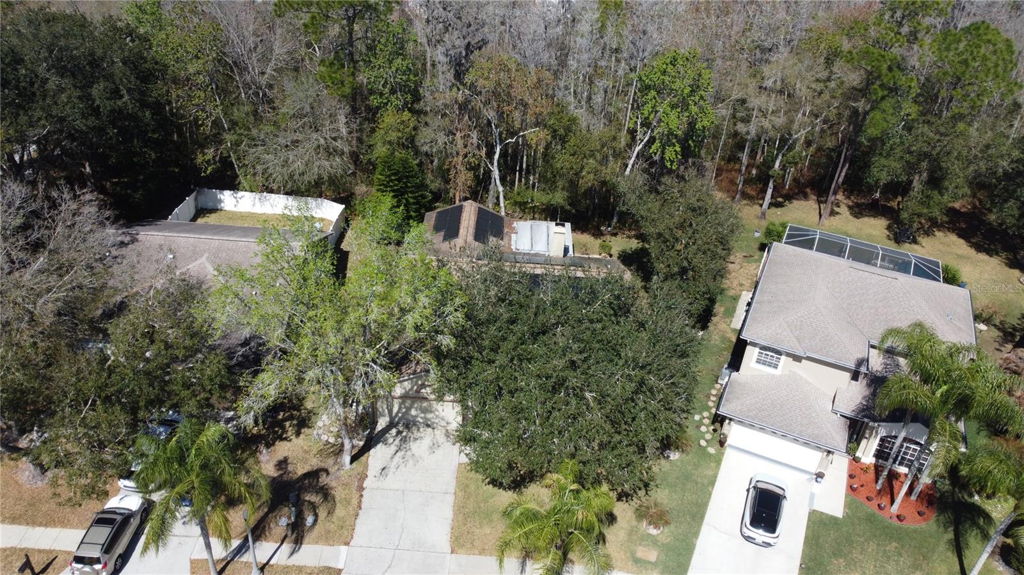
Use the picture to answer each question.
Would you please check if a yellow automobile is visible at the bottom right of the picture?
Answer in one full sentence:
No, at the bottom right of the picture there is no yellow automobile.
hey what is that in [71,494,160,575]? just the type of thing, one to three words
car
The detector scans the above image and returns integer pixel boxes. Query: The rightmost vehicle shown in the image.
[739,473,790,549]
